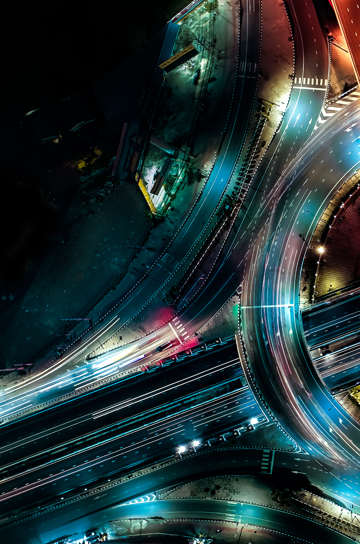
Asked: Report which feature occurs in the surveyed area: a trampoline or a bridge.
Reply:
bridge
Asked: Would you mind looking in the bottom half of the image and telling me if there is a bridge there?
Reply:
Yes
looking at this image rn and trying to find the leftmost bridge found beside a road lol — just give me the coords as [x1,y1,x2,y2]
[233,309,334,436]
